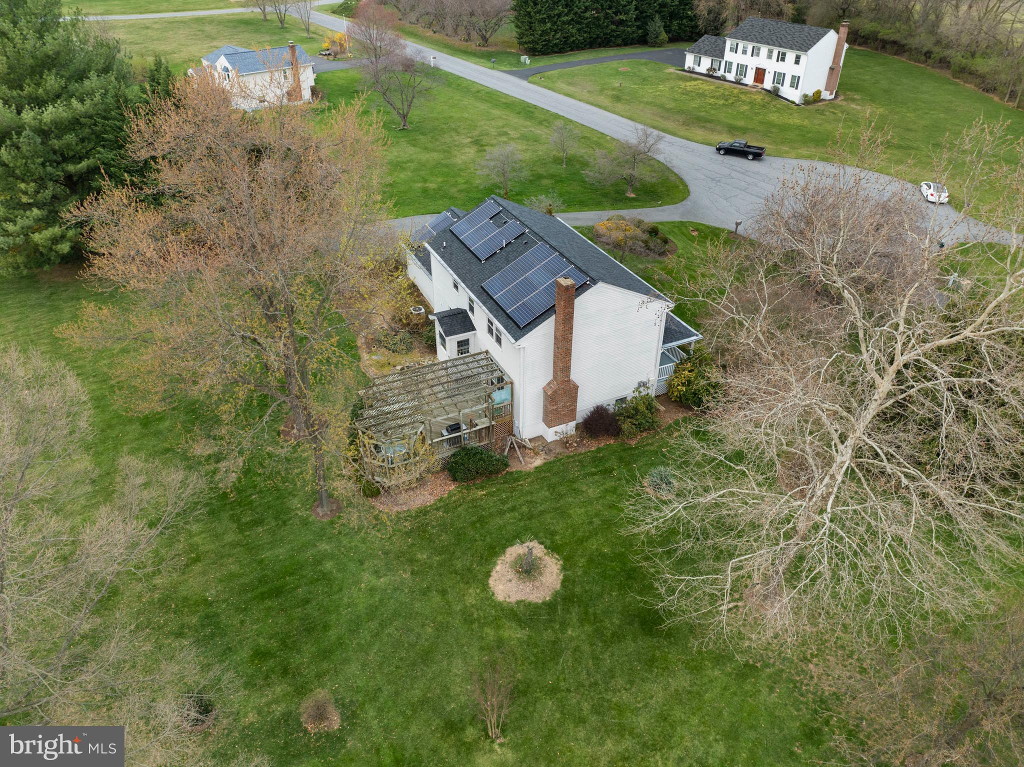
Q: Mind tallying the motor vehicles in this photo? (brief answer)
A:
2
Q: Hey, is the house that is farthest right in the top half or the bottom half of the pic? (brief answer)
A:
top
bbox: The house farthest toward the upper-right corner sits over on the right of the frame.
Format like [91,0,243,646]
[695,14,854,100]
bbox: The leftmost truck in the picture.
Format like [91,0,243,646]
[713,137,769,160]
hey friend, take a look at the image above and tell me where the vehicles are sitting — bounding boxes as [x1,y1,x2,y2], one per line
[713,137,769,160]
[918,180,951,203]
